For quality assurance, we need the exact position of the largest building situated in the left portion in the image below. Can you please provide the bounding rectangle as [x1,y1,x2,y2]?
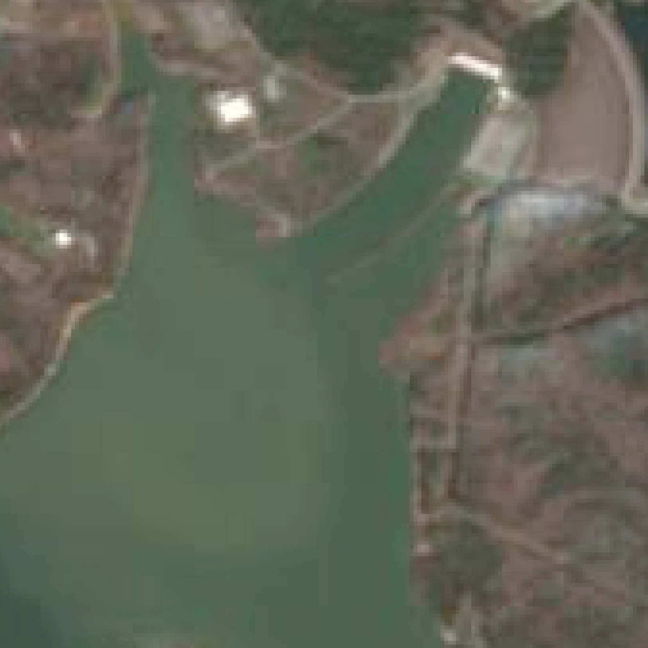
[217,96,250,120]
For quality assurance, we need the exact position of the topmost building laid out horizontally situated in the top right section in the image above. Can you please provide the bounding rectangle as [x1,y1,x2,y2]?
[449,52,501,75]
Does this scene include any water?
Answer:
Yes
